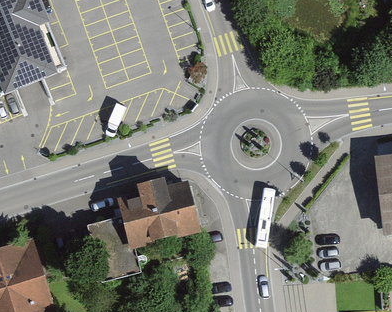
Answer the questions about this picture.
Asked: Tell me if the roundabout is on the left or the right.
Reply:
right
